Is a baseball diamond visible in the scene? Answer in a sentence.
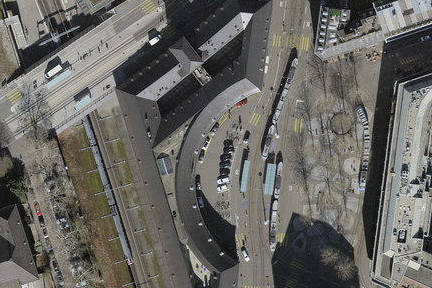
No, there's no baseball diamond here.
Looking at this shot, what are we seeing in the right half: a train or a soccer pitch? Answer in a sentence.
You can see a train in the right half.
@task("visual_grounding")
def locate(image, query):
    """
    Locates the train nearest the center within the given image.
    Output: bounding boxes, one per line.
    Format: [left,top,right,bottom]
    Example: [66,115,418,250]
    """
[262,124,276,160]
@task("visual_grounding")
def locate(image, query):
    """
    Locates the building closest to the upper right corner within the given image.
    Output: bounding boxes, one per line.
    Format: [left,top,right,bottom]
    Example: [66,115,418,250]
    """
[371,0,432,44]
